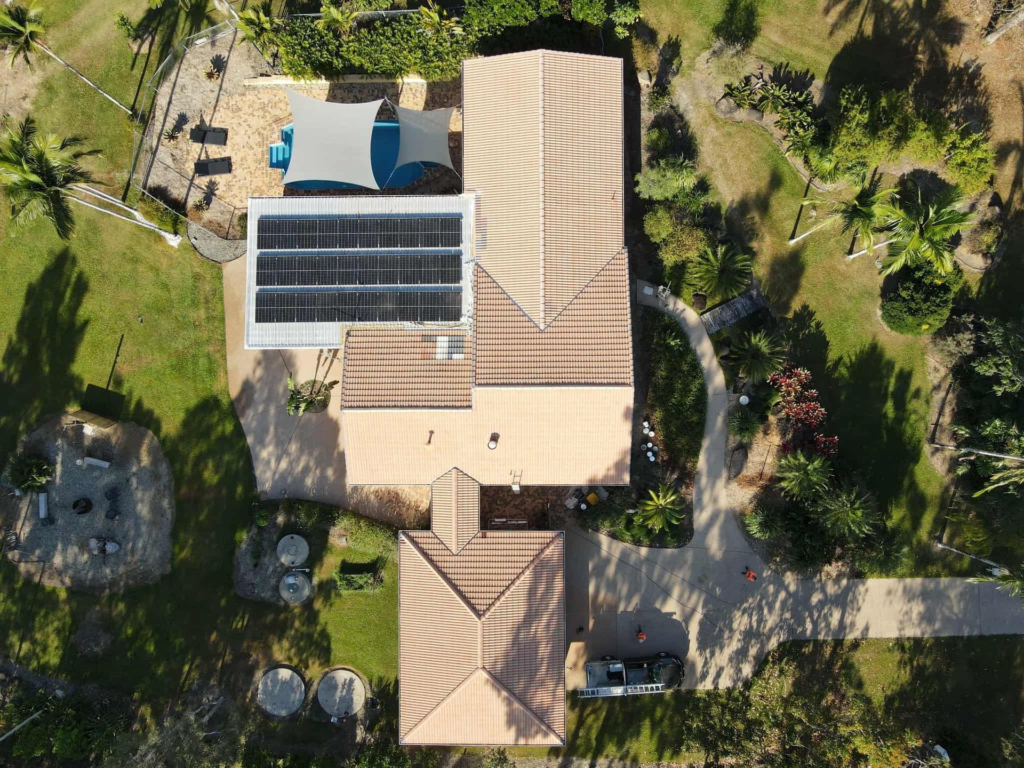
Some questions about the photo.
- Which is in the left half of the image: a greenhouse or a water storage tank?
water storage tank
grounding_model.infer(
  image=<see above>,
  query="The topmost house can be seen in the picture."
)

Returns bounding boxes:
[339,47,637,558]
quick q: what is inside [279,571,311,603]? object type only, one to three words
water tank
